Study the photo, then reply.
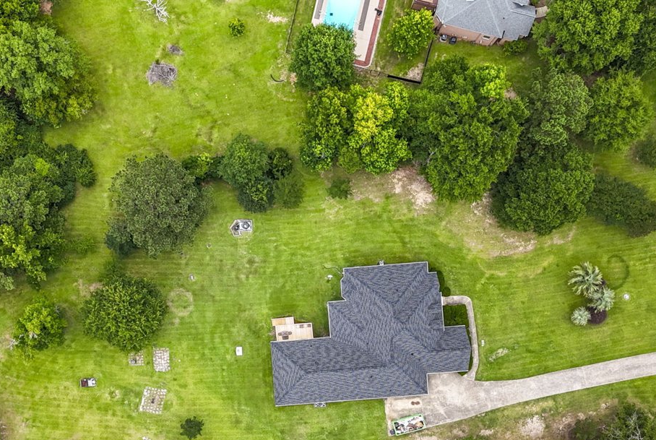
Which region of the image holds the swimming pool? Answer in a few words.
top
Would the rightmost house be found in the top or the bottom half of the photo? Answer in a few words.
top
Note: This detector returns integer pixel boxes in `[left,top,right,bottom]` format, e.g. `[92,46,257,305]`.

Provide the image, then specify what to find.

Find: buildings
[271,261,470,406]
[431,0,541,49]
